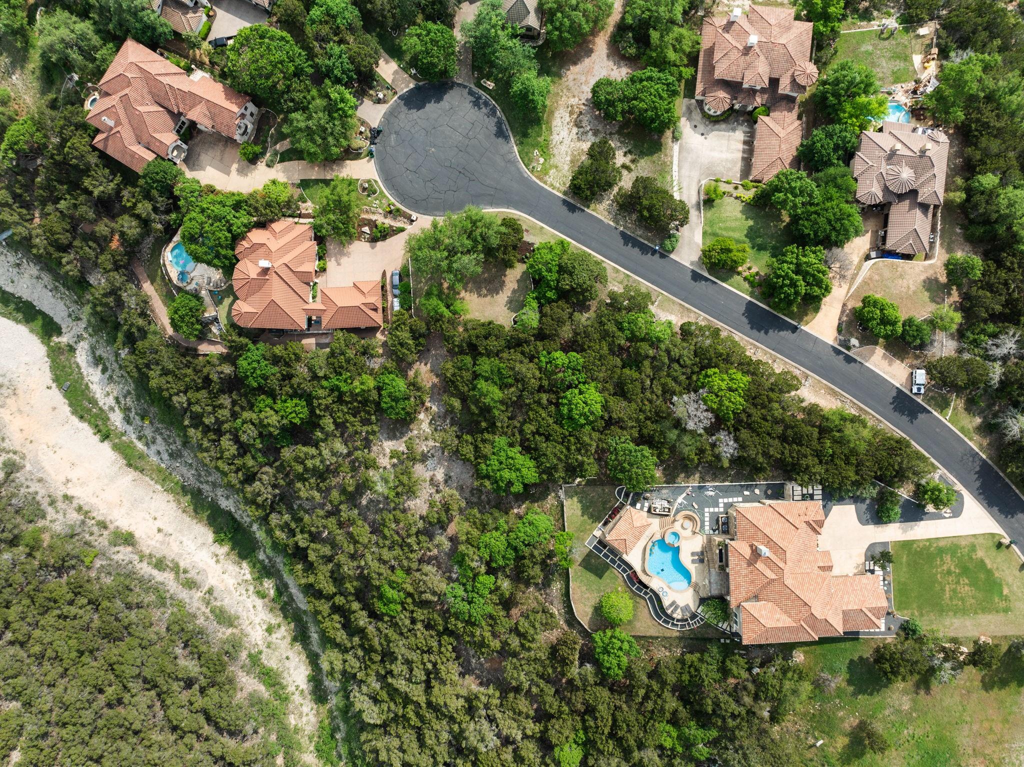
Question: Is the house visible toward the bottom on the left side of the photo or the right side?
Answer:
right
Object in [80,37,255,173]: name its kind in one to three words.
house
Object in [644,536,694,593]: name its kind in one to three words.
swimming pool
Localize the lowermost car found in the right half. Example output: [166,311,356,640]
[911,366,927,393]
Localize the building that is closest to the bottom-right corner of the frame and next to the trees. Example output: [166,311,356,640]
[723,499,888,645]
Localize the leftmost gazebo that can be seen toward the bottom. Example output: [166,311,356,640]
[604,506,652,556]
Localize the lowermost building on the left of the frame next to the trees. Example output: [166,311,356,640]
[229,220,383,329]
